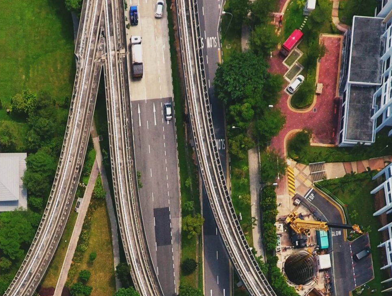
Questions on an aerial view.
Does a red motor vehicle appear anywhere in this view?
Yes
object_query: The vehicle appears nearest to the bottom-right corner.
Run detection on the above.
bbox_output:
[351,246,374,262]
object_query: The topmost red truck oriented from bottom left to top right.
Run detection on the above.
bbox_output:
[278,20,309,58]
